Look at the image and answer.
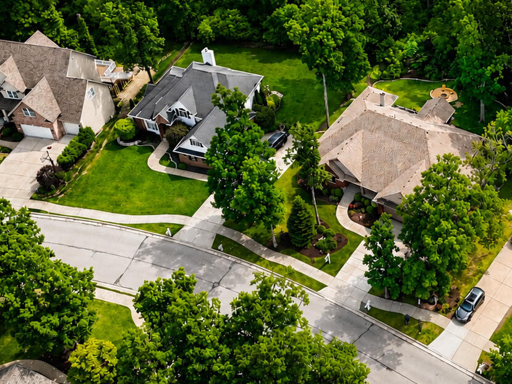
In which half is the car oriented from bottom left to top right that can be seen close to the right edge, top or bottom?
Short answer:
bottom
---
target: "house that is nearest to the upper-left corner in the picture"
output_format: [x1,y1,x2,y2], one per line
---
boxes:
[0,25,120,136]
